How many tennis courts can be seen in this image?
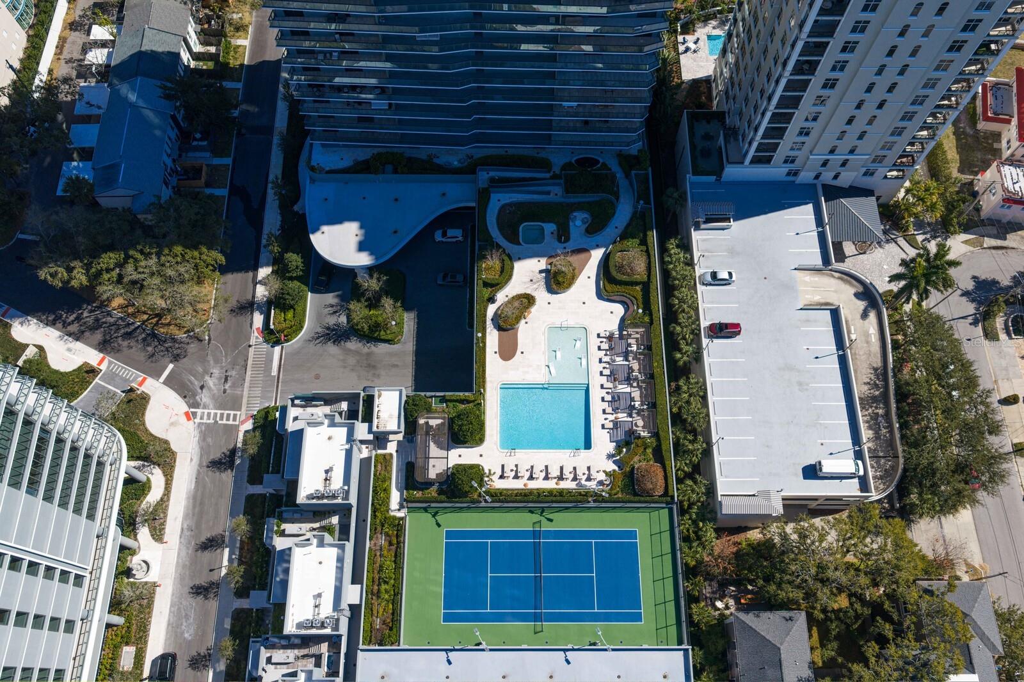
one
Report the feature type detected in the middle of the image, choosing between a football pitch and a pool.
pool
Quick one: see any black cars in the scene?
Yes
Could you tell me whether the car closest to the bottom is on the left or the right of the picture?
left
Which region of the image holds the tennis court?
bottom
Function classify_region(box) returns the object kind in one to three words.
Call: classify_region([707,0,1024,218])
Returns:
building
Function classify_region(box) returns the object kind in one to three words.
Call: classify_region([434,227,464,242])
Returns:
car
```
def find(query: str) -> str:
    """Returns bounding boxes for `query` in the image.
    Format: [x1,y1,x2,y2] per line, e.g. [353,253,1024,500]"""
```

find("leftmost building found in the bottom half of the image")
[0,355,151,682]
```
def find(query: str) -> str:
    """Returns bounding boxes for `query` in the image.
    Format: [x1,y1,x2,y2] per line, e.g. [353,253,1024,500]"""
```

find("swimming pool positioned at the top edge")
[705,31,731,56]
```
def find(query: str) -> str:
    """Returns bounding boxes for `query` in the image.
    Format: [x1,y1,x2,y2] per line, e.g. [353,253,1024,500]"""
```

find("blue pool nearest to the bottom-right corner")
[498,324,593,451]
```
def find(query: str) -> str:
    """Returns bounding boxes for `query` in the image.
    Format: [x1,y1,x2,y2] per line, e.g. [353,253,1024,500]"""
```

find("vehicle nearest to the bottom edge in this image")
[153,648,177,682]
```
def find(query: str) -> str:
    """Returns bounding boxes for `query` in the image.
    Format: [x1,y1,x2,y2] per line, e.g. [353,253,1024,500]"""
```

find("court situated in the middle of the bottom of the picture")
[402,506,685,647]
